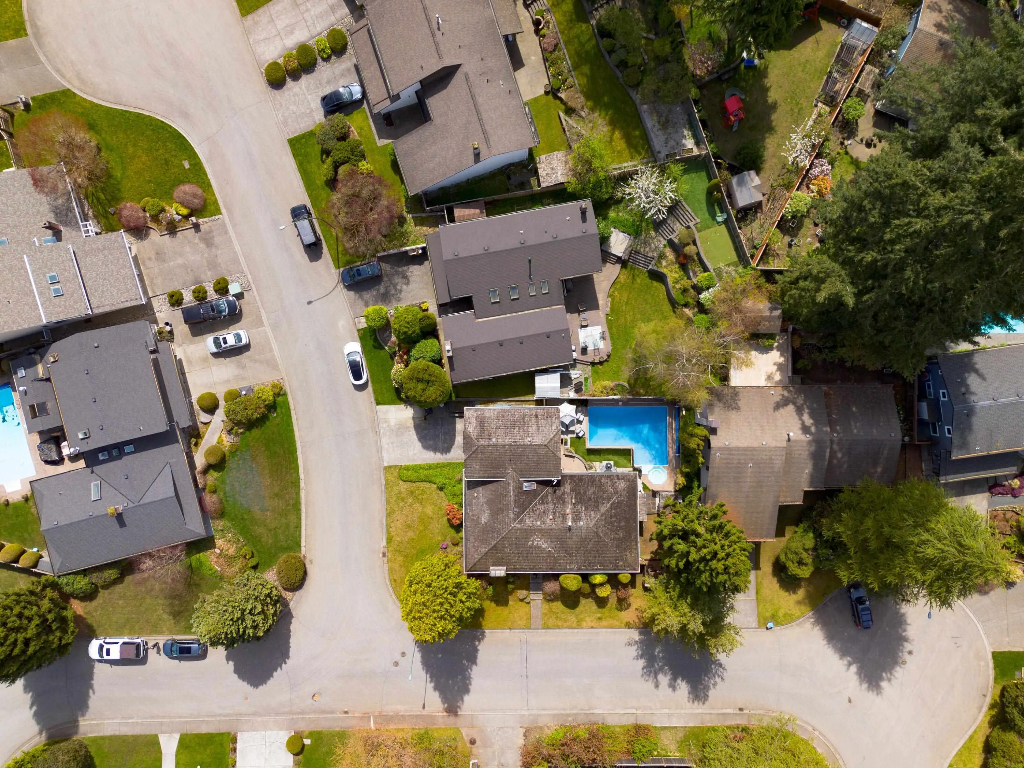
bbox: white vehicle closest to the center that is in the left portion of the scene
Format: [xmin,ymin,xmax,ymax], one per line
[344,341,368,386]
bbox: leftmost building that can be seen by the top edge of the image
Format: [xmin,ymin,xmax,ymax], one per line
[347,0,538,198]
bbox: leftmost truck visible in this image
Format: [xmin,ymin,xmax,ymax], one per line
[89,637,147,661]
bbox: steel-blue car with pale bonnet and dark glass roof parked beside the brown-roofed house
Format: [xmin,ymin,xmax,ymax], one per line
[319,83,365,112]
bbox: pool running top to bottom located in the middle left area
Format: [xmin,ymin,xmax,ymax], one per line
[0,382,37,495]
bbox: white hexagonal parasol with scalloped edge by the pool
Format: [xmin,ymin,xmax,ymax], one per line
[560,402,582,430]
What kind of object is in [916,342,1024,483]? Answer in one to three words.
house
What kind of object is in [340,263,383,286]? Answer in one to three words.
car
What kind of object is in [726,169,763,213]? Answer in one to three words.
shed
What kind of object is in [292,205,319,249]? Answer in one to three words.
car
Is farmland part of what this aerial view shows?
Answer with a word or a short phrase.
No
